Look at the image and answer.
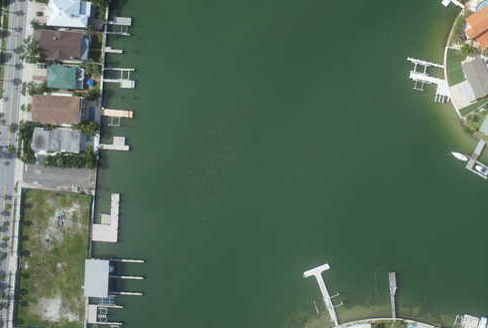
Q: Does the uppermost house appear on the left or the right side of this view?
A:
left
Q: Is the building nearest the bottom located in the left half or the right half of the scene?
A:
left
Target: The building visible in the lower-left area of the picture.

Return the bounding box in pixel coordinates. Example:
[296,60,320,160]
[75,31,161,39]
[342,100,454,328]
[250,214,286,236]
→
[84,259,111,297]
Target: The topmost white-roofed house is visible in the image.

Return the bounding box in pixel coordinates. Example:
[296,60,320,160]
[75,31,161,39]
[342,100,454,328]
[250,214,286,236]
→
[47,0,91,27]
